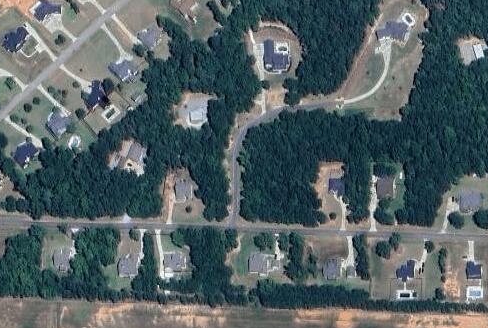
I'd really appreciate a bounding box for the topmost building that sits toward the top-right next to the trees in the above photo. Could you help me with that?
[377,19,408,42]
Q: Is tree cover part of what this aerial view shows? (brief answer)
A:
Yes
